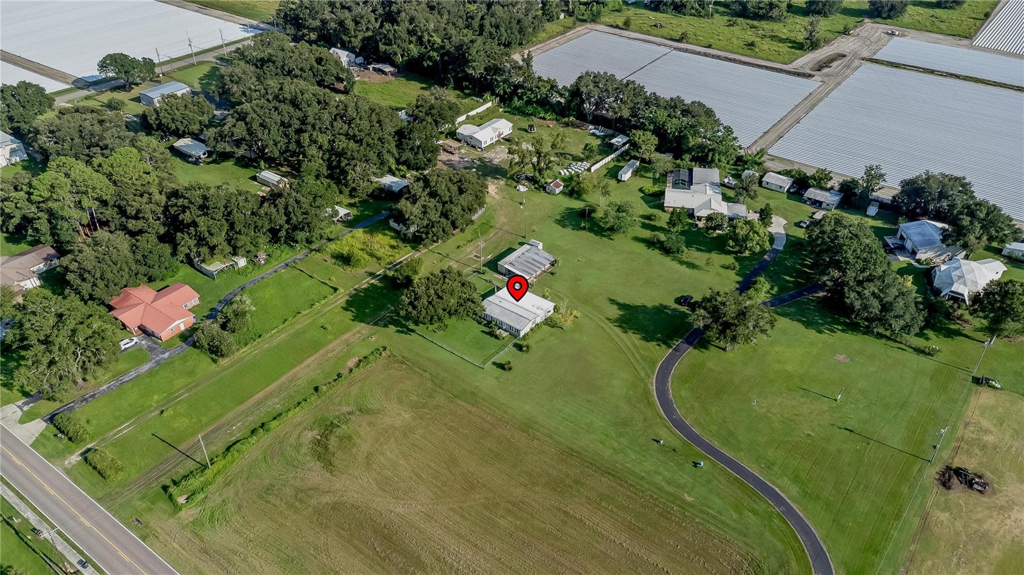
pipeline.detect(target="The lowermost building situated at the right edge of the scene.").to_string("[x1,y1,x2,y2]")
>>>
[925,253,1015,304]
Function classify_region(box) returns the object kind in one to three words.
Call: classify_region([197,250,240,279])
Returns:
shed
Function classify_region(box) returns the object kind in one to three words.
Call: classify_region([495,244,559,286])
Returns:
barn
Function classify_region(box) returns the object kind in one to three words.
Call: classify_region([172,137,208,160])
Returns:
house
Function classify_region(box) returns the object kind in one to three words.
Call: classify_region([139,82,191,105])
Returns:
building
